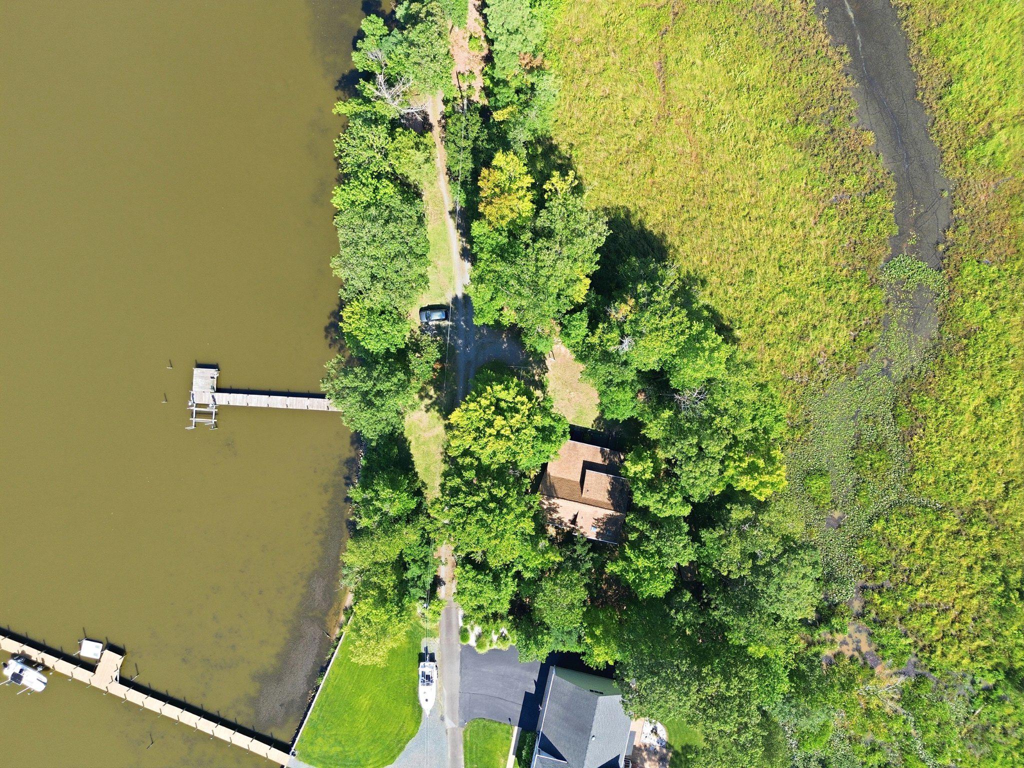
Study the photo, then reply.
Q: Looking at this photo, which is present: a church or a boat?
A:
boat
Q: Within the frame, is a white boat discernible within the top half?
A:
No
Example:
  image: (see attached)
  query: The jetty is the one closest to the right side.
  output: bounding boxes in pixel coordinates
[187,368,365,413]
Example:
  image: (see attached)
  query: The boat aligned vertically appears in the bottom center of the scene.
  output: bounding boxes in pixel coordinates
[418,654,438,717]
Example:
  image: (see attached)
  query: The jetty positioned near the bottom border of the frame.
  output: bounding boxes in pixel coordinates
[0,635,292,766]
